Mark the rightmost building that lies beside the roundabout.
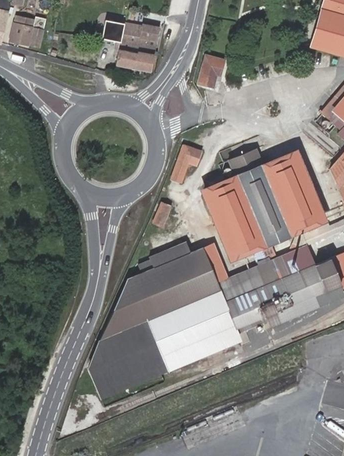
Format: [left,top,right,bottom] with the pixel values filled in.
[203,150,328,262]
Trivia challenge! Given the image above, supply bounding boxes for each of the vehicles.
[102,48,108,60]
[316,54,322,65]
[105,256,110,266]
[10,55,25,64]
[86,312,93,323]
[316,414,344,437]
[166,28,172,39]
